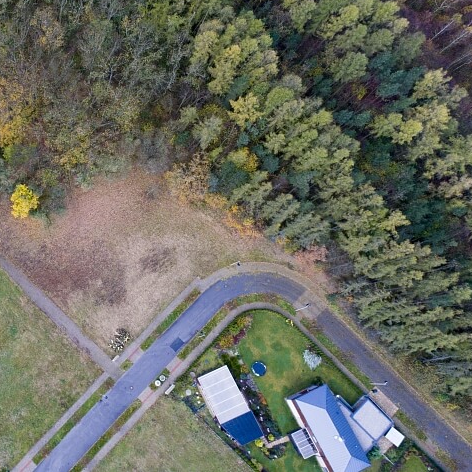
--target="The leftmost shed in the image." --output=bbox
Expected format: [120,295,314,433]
[196,364,263,445]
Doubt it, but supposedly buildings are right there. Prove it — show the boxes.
[196,364,263,445]
[285,383,376,472]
